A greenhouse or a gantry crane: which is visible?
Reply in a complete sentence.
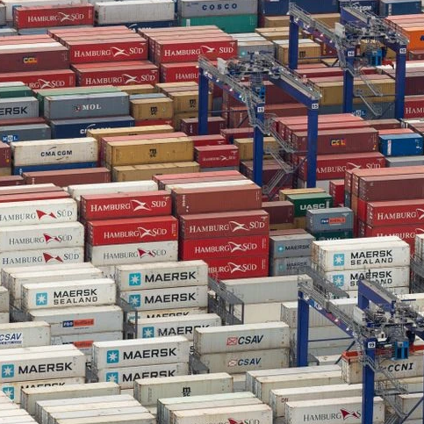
Visible in the photo is a gantry crane.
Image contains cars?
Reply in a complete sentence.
No, no car can be seen from above.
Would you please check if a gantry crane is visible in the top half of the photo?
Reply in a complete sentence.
Yes, looking in the top half of the photo, one can make out a gantry crane.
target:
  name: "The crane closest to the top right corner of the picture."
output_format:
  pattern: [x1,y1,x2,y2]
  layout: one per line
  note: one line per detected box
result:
[285,0,419,130]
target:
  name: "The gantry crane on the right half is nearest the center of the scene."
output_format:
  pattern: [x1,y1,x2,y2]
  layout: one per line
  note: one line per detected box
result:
[193,53,328,202]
